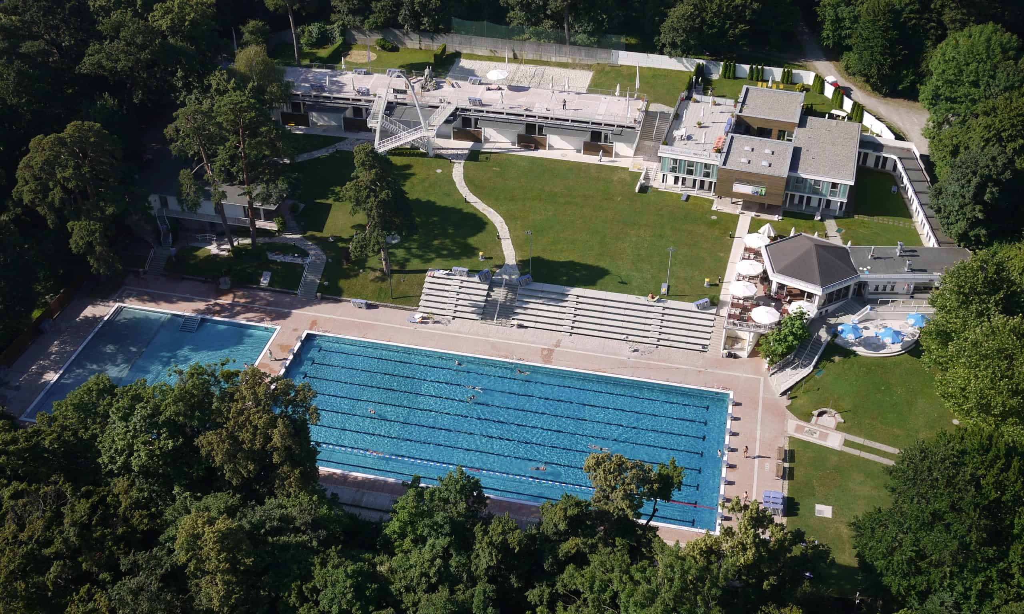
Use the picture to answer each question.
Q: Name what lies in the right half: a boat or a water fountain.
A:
water fountain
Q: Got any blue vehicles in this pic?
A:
No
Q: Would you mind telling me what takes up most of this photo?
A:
trees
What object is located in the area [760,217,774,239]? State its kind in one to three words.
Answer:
umbrella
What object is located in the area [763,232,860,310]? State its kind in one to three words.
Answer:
building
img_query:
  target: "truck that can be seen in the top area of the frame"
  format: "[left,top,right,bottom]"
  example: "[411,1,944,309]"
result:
[825,68,852,92]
